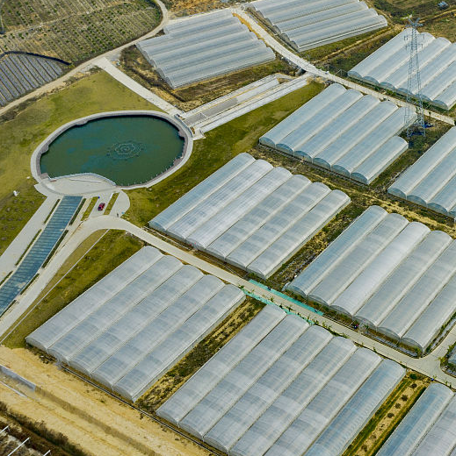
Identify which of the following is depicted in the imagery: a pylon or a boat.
pylon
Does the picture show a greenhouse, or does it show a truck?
greenhouse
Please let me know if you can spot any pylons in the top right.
Yes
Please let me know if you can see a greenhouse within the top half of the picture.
Yes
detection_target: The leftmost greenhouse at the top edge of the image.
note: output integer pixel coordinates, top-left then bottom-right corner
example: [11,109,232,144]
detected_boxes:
[142,7,273,90]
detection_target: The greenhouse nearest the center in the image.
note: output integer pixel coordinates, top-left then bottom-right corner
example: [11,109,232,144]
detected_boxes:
[146,151,353,282]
